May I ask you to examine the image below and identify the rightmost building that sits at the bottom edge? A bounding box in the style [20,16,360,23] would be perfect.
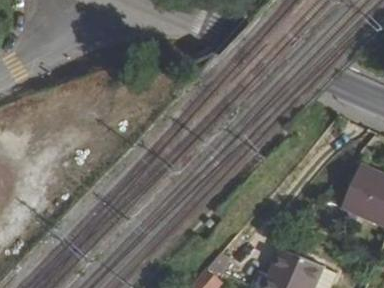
[258,248,326,288]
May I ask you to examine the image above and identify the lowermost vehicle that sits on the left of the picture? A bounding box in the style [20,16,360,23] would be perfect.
[4,32,16,51]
